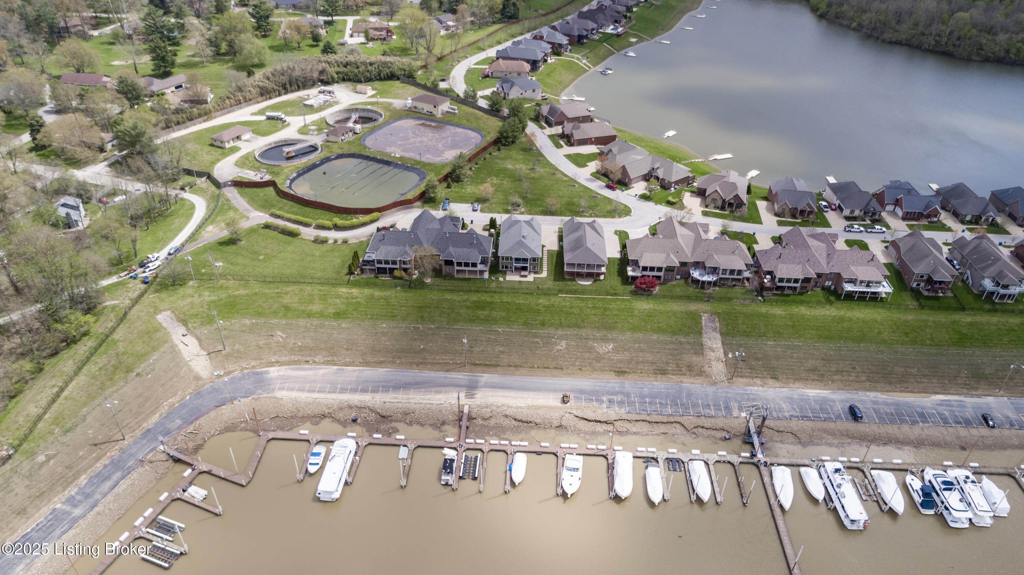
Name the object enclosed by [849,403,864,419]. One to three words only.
car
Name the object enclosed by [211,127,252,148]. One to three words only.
building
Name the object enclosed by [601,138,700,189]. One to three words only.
house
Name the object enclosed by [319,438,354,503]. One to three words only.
boat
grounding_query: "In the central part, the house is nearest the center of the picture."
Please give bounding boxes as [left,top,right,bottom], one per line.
[498,215,543,272]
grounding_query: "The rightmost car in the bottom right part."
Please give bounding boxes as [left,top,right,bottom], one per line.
[982,410,999,426]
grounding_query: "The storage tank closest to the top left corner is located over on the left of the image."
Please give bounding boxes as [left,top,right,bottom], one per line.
[254,137,321,167]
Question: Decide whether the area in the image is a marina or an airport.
marina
